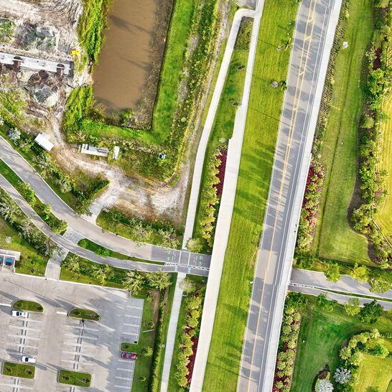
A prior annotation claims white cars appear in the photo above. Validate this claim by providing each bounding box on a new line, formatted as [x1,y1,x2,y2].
[13,310,28,317]
[22,355,37,363]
